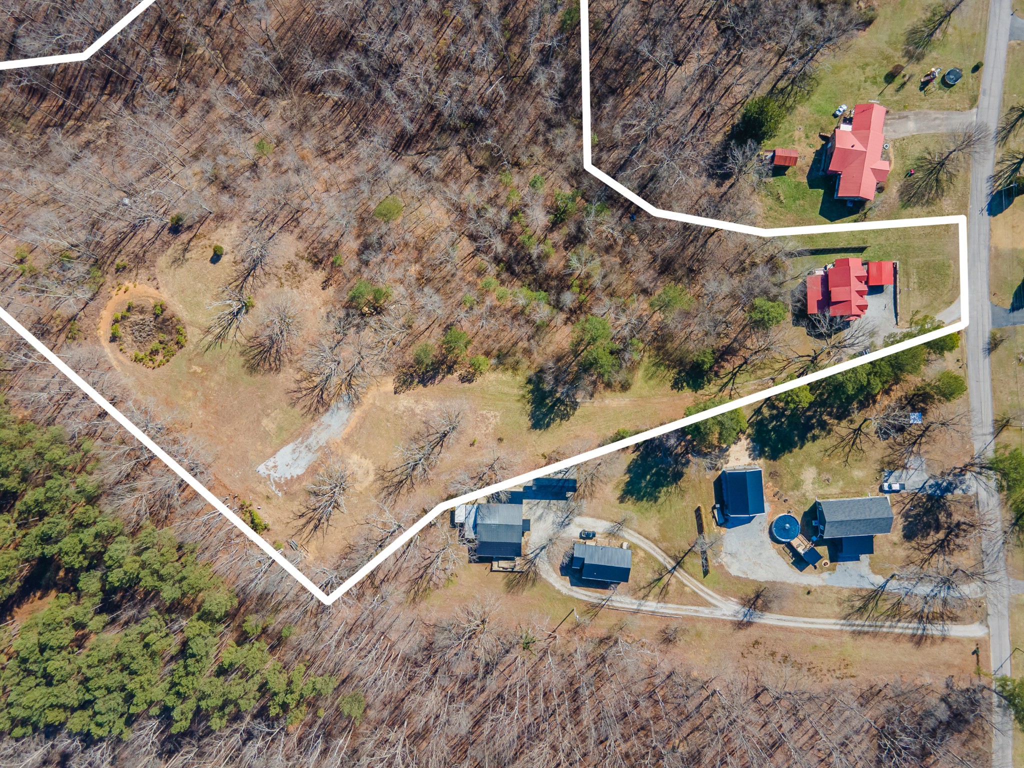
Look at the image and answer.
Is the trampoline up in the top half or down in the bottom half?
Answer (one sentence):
The top half of the photo is where the trampoline is.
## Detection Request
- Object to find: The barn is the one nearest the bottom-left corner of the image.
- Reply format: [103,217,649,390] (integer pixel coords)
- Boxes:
[455,491,530,557]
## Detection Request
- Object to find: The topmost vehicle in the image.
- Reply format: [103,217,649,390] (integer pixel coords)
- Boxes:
[836,101,850,116]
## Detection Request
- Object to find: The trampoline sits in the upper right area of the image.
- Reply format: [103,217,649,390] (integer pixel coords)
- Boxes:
[944,65,966,85]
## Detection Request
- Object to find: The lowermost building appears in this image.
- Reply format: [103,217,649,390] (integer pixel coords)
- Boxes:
[572,543,632,584]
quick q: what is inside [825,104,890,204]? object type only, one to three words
house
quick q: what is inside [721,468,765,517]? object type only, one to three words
building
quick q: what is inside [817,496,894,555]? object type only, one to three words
house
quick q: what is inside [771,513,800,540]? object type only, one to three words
swimming pool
